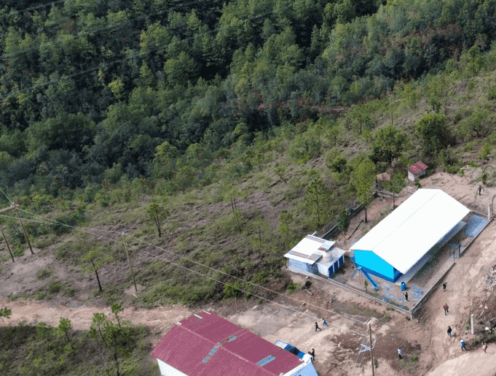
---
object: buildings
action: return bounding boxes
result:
[287,228,336,271]
[407,162,428,181]
[345,189,474,293]
[151,311,321,376]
